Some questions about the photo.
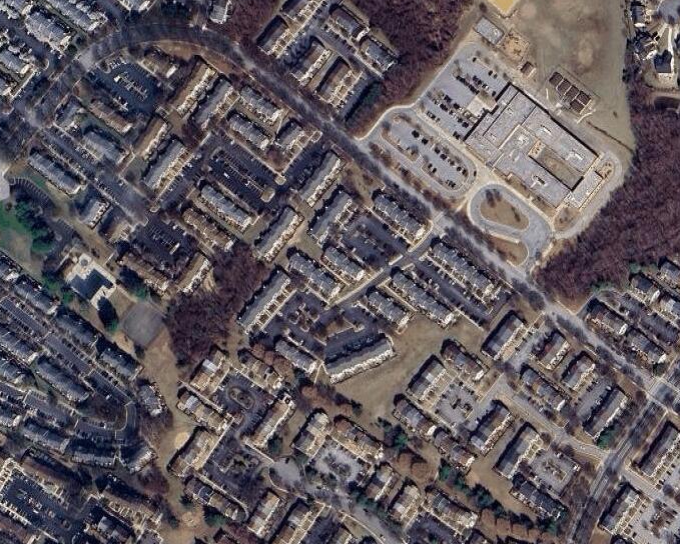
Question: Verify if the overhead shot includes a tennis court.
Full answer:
Yes, a tennis court is visible in the scene.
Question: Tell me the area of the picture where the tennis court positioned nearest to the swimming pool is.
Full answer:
Look in the left portion of the view to spot the tennis court positioned nearest to the swimming pool.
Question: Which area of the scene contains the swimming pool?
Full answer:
The swimming pool sits in the left section of the image.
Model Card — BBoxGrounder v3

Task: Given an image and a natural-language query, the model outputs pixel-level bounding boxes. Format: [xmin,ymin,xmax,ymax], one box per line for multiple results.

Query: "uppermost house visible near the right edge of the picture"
[626,2,653,25]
